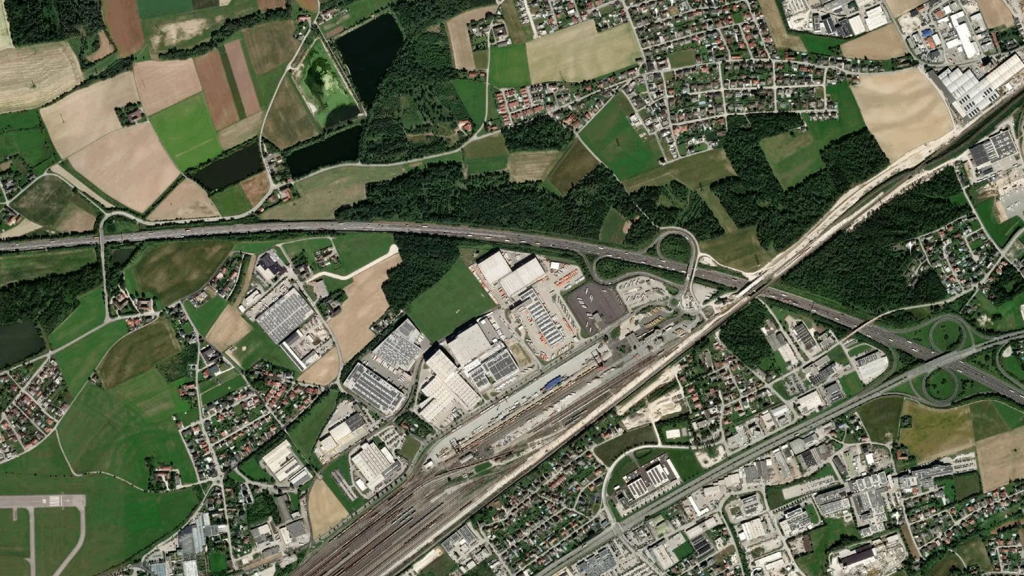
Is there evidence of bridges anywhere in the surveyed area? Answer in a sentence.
Yes, a bridge can be made out from above.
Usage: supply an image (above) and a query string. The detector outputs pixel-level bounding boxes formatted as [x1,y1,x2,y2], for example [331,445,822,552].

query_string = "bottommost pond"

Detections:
[0,320,45,370]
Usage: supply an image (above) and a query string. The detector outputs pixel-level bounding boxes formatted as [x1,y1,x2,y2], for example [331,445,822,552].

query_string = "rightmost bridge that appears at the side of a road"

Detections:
[892,332,1002,386]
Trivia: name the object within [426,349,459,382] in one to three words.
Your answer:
building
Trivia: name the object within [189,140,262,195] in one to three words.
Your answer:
pond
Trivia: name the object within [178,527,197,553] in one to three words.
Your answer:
greenhouse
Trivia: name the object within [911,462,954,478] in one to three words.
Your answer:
building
